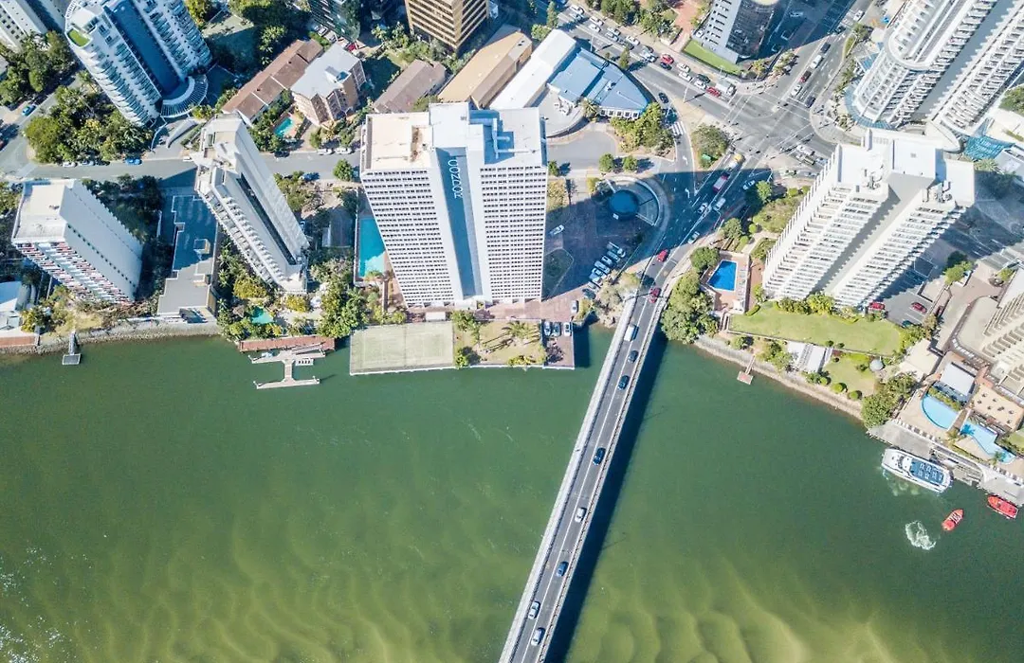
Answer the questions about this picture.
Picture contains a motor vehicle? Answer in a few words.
Yes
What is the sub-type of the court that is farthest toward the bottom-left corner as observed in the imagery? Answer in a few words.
tennis court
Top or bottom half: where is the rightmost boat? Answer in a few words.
bottom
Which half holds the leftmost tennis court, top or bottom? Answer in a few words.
top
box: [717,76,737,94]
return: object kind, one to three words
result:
vehicle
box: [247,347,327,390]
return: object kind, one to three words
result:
pier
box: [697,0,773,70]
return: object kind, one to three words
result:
building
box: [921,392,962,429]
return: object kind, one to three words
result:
swimming pool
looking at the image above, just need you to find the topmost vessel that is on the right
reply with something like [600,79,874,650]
[881,449,953,491]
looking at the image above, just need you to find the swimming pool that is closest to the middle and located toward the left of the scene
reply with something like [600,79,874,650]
[357,215,388,280]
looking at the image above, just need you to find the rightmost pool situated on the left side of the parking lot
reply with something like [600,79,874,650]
[707,258,739,292]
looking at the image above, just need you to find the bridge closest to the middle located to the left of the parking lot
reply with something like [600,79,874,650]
[499,252,689,663]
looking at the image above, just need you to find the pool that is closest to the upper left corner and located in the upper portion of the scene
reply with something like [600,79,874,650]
[272,116,295,136]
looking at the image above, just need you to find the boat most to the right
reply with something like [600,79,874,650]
[987,498,1019,520]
